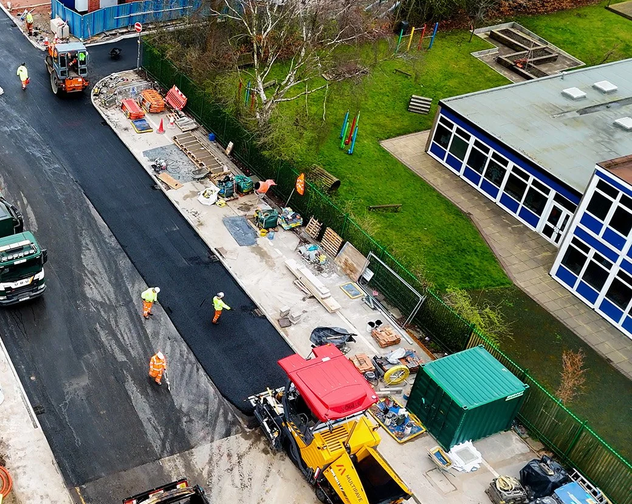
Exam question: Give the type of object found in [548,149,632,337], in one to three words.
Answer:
building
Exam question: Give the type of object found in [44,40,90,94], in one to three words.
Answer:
work vehicle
